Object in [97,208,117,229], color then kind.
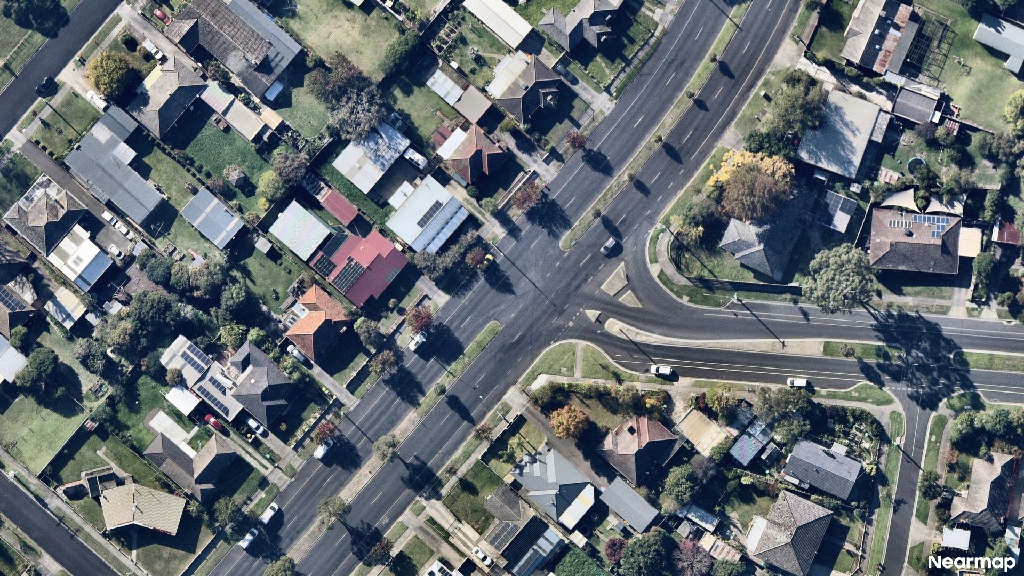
white vehicle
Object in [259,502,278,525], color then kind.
white vehicle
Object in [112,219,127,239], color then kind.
white car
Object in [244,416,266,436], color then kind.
white car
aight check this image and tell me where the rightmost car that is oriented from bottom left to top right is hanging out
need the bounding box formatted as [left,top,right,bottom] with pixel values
[599,235,618,258]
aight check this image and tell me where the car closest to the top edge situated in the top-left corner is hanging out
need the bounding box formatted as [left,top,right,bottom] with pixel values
[152,7,173,27]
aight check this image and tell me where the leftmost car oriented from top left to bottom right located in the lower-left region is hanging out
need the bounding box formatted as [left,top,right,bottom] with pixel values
[203,412,224,431]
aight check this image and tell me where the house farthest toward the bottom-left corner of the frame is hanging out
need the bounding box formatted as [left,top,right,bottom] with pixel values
[100,484,186,535]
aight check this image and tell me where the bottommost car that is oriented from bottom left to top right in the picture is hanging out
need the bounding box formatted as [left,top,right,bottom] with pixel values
[238,527,258,550]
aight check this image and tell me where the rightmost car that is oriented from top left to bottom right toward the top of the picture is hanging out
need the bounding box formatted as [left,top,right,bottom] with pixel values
[557,64,578,85]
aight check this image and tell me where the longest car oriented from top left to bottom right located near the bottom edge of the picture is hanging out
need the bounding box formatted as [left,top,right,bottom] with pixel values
[471,546,491,566]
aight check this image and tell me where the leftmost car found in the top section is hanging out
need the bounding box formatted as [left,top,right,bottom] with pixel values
[36,75,56,98]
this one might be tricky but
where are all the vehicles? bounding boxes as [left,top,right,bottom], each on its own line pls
[259,502,278,525]
[471,546,491,566]
[86,90,108,111]
[112,219,127,239]
[786,377,809,387]
[314,439,333,460]
[650,364,673,375]
[106,241,126,262]
[64,486,87,497]
[203,412,224,431]
[238,527,258,550]
[285,343,307,363]
[36,75,56,98]
[599,235,618,258]
[244,416,266,436]
[557,64,578,85]
[408,331,427,353]
[97,208,117,229]
[152,7,173,27]
[141,37,163,59]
